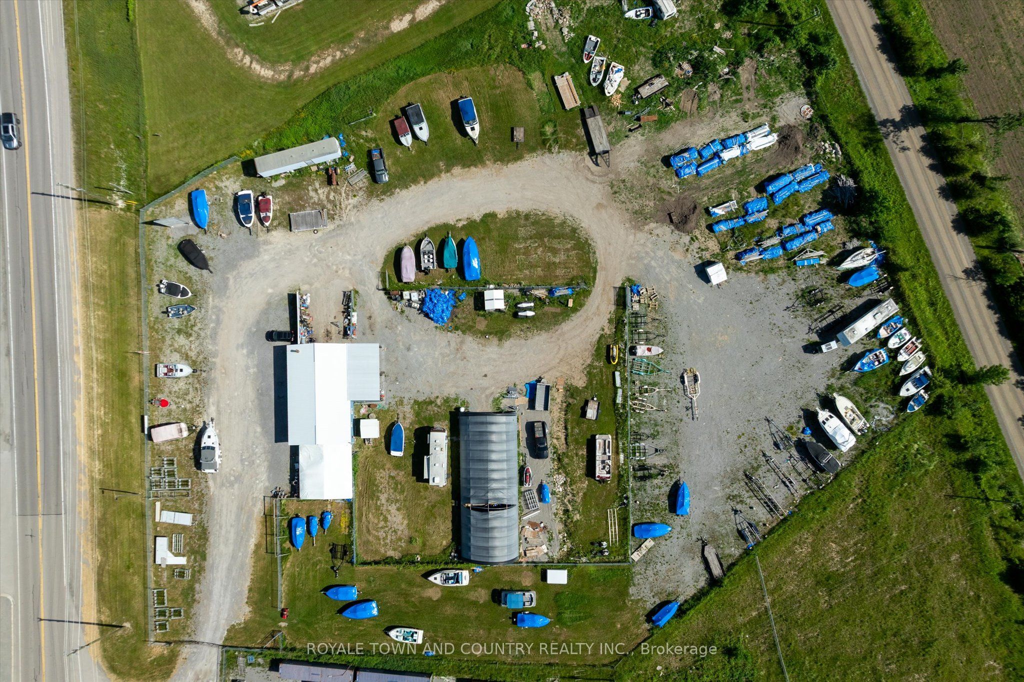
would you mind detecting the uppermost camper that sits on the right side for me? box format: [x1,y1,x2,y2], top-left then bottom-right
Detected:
[654,0,677,21]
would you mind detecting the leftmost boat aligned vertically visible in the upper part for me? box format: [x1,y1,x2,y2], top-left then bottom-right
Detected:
[190,186,210,228]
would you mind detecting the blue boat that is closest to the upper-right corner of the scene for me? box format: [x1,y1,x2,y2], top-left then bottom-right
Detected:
[847,264,883,286]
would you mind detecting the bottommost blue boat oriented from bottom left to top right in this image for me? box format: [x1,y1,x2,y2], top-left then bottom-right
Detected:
[649,601,680,629]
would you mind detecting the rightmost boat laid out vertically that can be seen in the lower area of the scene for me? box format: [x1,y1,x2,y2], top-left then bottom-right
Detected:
[675,481,690,520]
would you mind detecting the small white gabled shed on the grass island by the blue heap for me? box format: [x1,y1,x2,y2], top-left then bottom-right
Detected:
[485,290,504,310]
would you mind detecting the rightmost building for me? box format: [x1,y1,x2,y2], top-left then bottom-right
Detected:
[702,263,727,287]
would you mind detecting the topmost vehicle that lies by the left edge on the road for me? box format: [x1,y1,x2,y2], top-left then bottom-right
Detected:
[2,112,23,151]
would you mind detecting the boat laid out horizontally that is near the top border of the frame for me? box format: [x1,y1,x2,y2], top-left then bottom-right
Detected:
[624,5,653,19]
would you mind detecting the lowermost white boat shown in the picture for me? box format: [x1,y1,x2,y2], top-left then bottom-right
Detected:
[388,627,424,645]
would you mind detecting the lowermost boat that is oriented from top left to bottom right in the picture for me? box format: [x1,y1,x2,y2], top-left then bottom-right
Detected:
[805,441,842,478]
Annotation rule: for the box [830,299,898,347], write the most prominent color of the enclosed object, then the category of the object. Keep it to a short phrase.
white trailer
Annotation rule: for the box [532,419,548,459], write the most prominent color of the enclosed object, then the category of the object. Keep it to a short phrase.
black vehicle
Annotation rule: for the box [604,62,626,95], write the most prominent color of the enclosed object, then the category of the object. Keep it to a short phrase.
white boat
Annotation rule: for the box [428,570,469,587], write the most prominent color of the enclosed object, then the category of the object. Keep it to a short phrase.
white boat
